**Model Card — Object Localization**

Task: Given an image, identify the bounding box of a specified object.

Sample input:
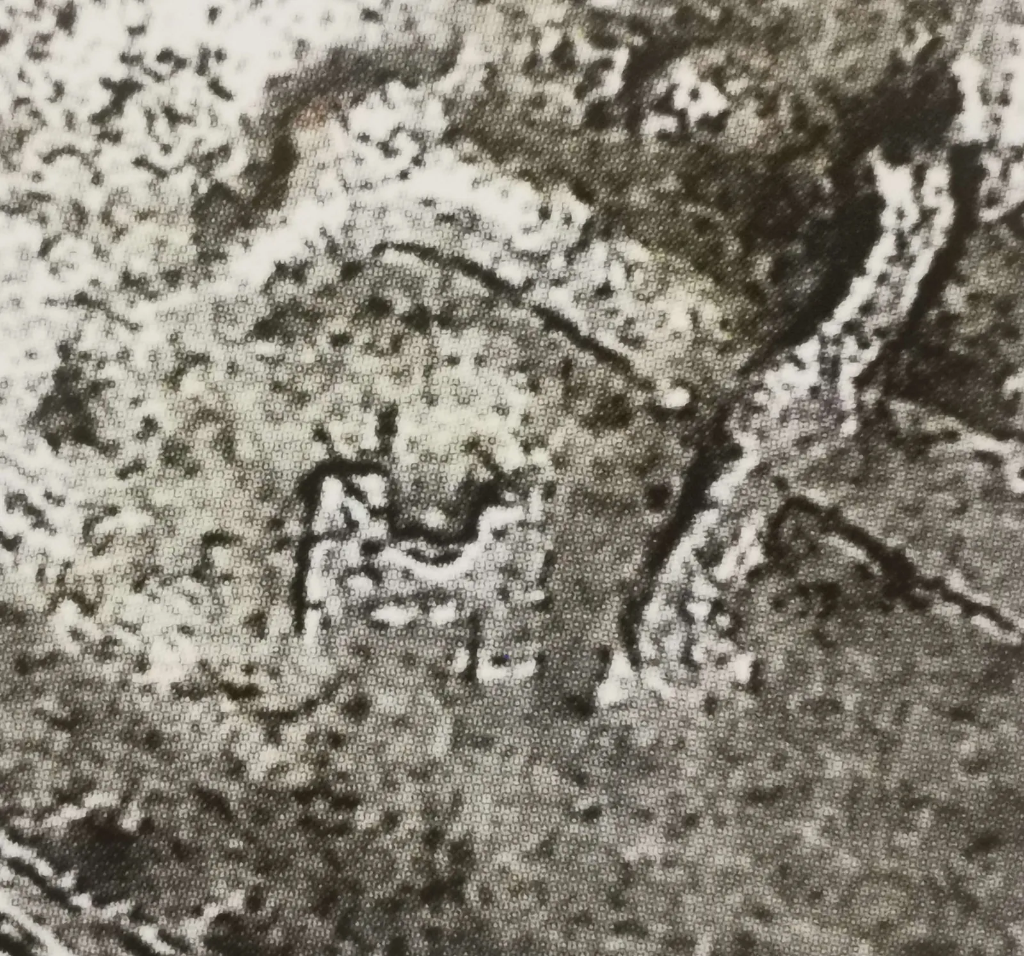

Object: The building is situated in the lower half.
[301,468,544,685]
